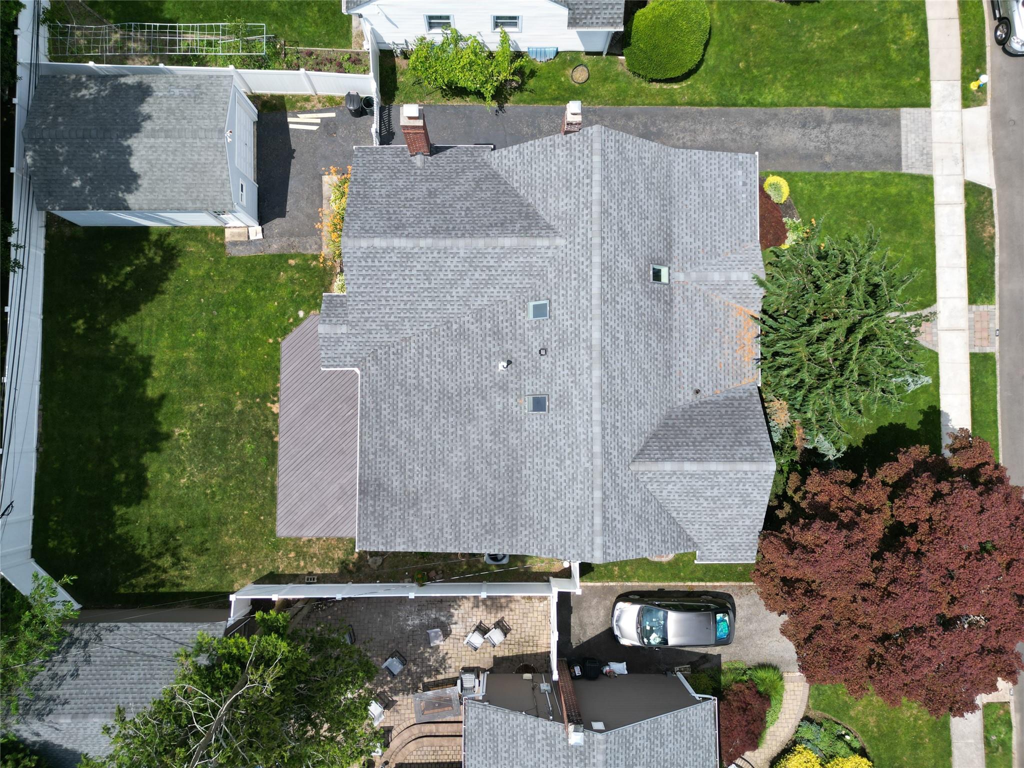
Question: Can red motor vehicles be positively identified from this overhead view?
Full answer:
No, no red motor vehicle can be seen from above.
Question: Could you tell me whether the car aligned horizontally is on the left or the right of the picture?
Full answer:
You can find the car aligned horizontally on the right side of the picture.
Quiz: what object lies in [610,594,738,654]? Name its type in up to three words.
car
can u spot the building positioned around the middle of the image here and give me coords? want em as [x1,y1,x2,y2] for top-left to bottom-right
[320,99,776,565]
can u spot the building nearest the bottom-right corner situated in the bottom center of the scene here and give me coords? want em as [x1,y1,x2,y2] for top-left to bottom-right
[461,659,724,768]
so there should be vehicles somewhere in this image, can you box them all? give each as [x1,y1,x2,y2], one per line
[990,0,1024,62]
[610,594,738,654]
